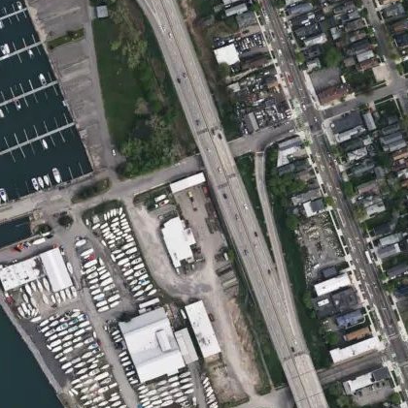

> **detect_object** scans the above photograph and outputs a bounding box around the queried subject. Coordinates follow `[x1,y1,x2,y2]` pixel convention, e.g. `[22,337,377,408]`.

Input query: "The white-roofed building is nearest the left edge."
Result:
[0,259,45,291]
